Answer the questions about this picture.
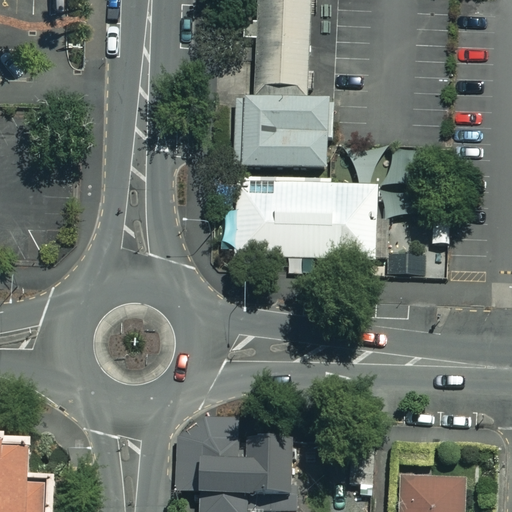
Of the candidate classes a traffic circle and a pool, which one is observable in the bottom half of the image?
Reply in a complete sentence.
The one visible in the bottom half of the image is a traffic circle.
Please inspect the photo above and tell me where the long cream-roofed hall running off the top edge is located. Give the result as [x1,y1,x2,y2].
[244,0,310,96]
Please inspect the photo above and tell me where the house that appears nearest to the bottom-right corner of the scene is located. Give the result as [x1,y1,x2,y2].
[398,474,467,512]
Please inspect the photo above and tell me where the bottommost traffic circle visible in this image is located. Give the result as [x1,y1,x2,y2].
[92,302,176,386]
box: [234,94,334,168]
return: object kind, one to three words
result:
house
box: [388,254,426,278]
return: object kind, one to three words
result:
shed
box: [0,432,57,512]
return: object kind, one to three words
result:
building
